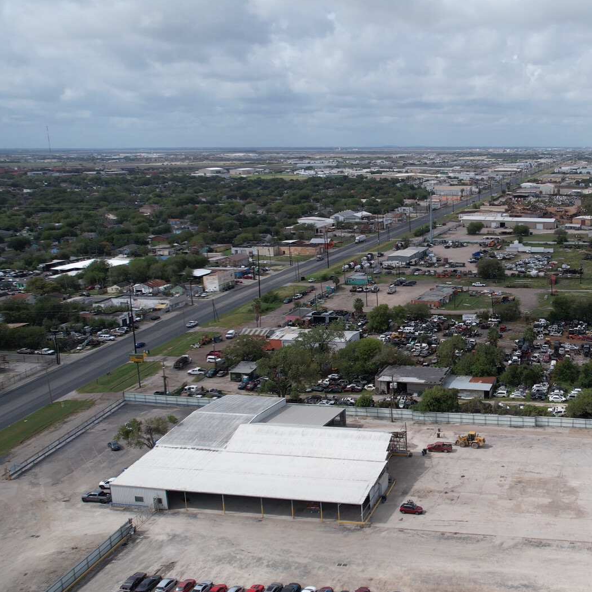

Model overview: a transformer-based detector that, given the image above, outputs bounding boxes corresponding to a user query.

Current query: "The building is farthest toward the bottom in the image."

[105,396,405,524]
